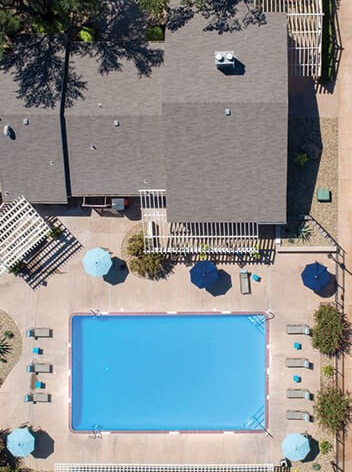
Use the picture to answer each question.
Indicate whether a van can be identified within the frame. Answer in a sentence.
No, this view has no van in it.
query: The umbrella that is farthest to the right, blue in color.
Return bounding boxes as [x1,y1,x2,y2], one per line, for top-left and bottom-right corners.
[302,261,332,292]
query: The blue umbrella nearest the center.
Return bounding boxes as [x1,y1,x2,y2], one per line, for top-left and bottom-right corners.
[190,259,218,289]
